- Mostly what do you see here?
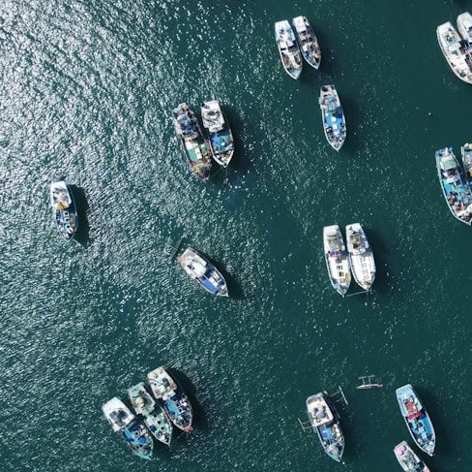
water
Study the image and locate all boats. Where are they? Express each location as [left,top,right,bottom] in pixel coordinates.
[395,438,430,472]
[436,147,472,226]
[292,15,322,70]
[308,392,343,463]
[202,100,233,168]
[457,10,472,55]
[174,105,210,183]
[274,18,302,81]
[436,19,472,84]
[147,366,192,431]
[179,248,230,297]
[396,382,434,458]
[129,382,173,446]
[320,85,346,152]
[357,375,383,388]
[324,224,351,298]
[49,180,79,241]
[101,396,153,461]
[462,145,472,189]
[345,222,375,292]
